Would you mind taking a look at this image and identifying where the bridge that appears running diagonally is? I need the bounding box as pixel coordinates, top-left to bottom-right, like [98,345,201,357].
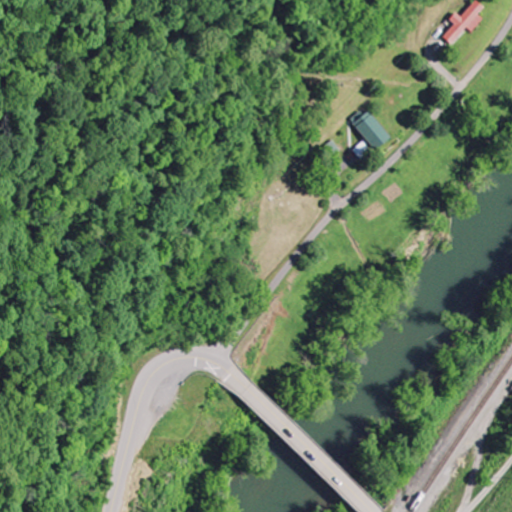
[214,362,380,512]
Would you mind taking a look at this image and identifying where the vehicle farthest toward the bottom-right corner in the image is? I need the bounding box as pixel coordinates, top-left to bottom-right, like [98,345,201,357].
[412,490,426,509]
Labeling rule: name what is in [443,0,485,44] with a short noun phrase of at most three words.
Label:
house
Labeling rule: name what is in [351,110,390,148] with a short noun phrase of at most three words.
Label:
building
